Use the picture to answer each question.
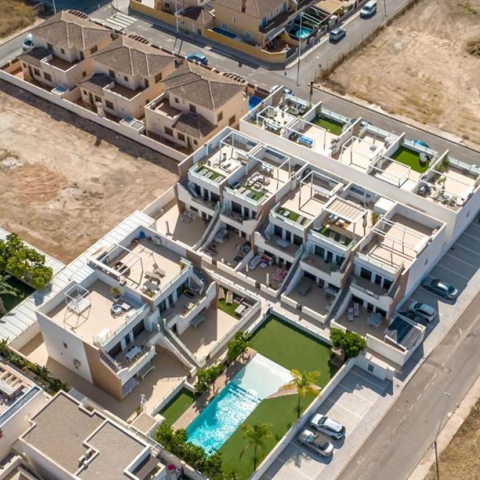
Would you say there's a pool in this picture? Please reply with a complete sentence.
Yes, there's a pool here.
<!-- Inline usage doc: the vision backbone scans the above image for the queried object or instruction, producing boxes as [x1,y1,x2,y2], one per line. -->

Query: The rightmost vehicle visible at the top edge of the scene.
[359,0,379,17]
